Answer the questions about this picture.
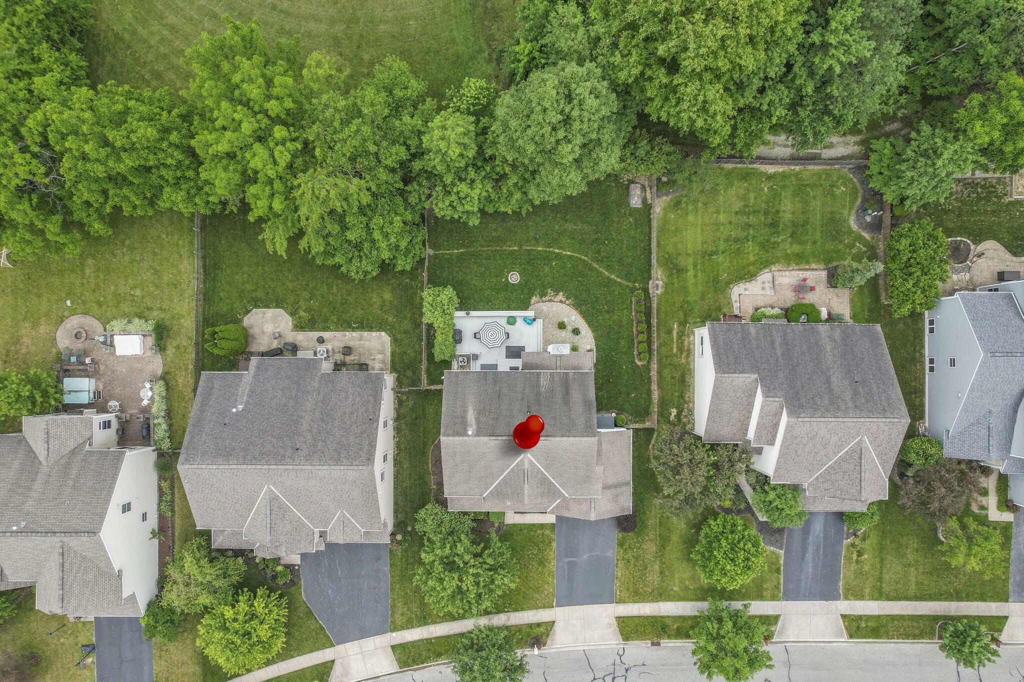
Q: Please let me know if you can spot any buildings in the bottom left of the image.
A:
Yes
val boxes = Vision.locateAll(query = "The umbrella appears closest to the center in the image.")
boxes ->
[480,322,504,347]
